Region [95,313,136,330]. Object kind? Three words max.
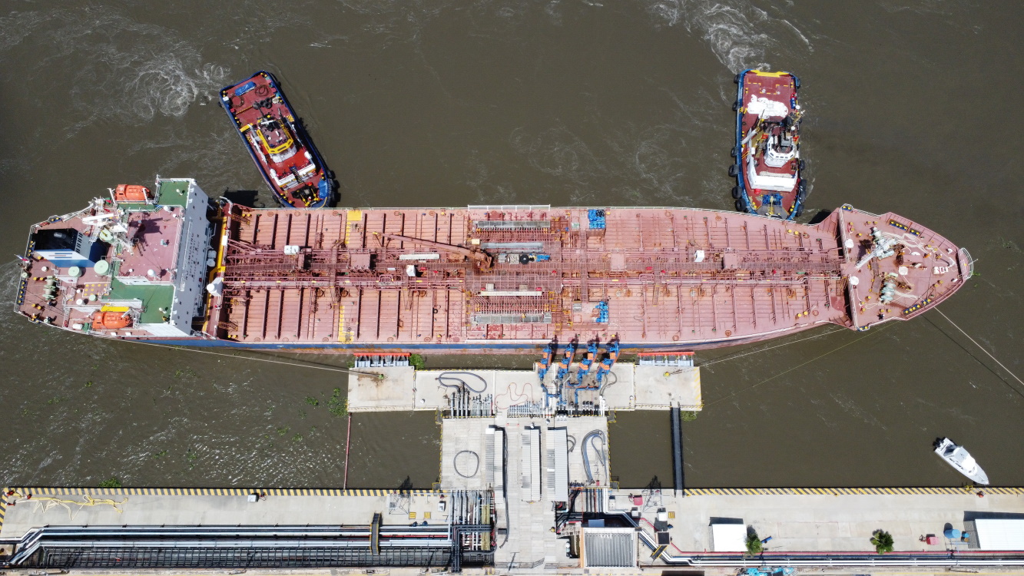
boat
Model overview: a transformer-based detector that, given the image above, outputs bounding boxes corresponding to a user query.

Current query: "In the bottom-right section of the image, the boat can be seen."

[930,436,989,487]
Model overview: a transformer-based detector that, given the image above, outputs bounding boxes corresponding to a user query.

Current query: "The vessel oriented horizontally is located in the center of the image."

[11,178,979,353]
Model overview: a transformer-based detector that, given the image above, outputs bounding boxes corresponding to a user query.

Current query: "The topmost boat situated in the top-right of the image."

[729,69,808,224]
